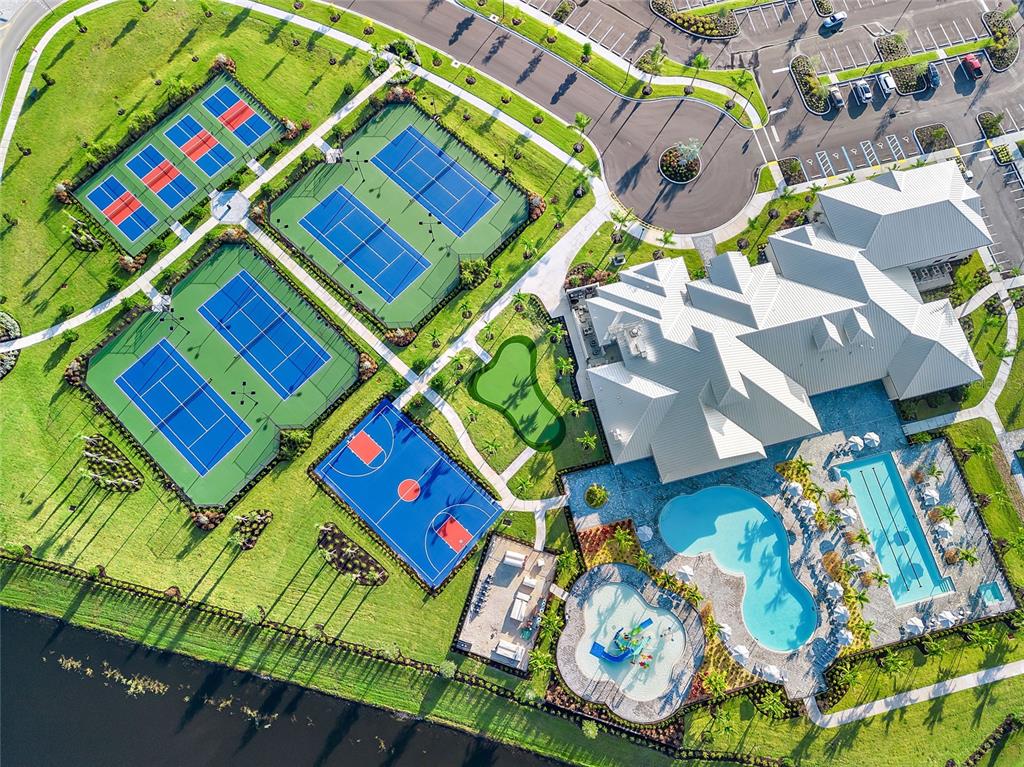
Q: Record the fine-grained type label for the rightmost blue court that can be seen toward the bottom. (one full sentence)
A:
The rightmost blue court that can be seen toward the bottom can be classified as a basketball court.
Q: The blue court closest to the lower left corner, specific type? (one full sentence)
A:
Looking closely, the blue court closest to the lower left corner is a tennis court.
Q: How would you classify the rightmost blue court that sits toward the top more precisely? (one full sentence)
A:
It looks like the rightmost blue court that sits toward the top is a tennis court.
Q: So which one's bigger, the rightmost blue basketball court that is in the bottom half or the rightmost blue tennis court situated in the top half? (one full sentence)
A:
The basketball court takes up more space than the tennis court.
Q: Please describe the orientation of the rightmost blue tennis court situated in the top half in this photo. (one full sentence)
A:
In this picture, the rightmost blue tennis court situated in the top half lies on a diagonal.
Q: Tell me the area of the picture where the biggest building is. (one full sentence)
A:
The biggest building is in the right part of the image.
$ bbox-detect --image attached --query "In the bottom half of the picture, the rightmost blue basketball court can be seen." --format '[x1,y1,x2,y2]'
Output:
[314,398,504,585]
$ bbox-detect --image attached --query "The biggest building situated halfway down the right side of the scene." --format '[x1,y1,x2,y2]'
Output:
[585,160,993,484]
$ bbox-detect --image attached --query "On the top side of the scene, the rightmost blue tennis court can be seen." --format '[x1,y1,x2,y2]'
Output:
[370,124,500,238]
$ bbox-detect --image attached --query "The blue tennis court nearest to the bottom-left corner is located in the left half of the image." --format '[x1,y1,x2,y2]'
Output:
[114,338,252,477]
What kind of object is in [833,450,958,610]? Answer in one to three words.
swimming pool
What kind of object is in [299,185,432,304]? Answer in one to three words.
tennis court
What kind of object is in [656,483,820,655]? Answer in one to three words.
swimming pool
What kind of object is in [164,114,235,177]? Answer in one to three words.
sports court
